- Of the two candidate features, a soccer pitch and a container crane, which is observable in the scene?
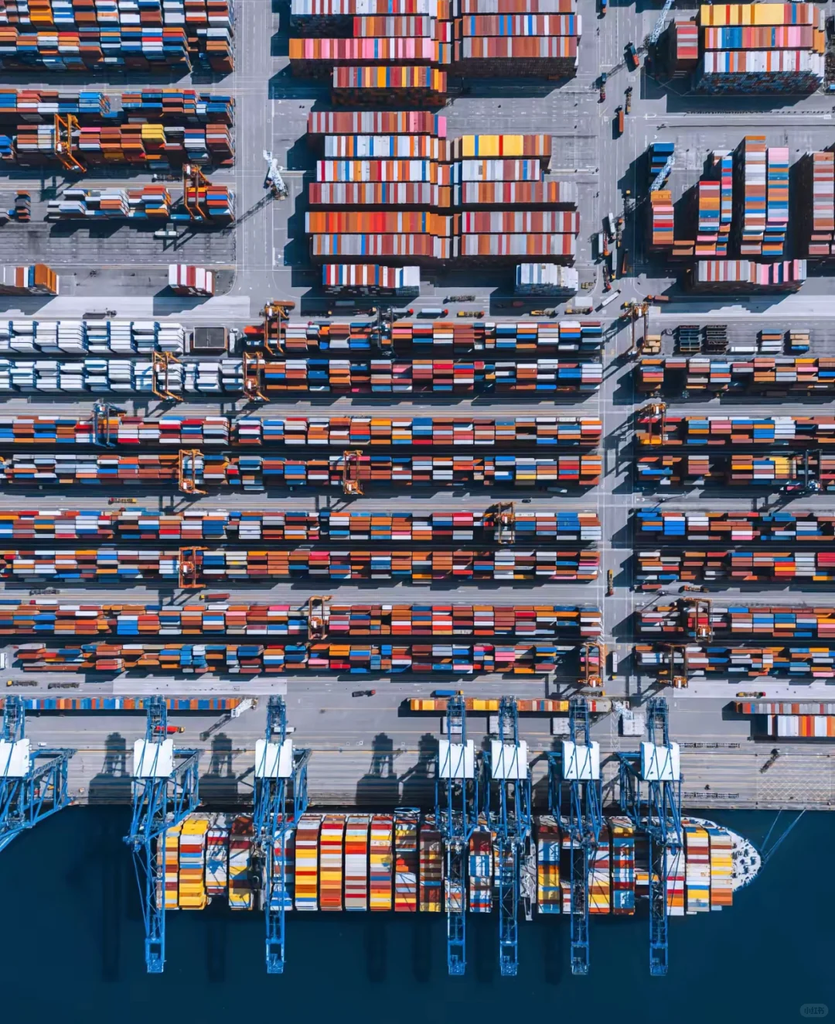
container crane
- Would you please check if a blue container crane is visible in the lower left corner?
Yes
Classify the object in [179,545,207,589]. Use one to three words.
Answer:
container crane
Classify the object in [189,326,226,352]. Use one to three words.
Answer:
shed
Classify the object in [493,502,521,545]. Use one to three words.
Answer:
container crane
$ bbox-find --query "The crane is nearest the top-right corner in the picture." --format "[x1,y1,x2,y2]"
[619,305,652,358]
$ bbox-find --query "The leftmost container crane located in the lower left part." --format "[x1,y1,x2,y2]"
[0,693,79,867]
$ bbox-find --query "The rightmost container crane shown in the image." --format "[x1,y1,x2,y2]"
[785,450,824,494]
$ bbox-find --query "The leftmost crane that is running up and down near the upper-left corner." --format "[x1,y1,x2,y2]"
[54,115,89,177]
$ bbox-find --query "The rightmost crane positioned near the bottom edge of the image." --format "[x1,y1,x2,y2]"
[610,693,692,975]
